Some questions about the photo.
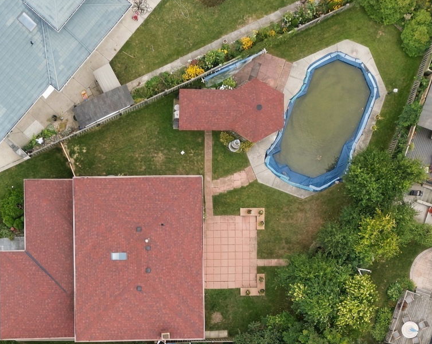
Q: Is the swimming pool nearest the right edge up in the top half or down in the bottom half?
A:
top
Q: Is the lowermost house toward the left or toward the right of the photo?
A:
left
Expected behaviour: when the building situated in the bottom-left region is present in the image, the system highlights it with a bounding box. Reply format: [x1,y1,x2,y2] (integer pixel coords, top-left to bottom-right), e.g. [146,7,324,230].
[0,175,206,343]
